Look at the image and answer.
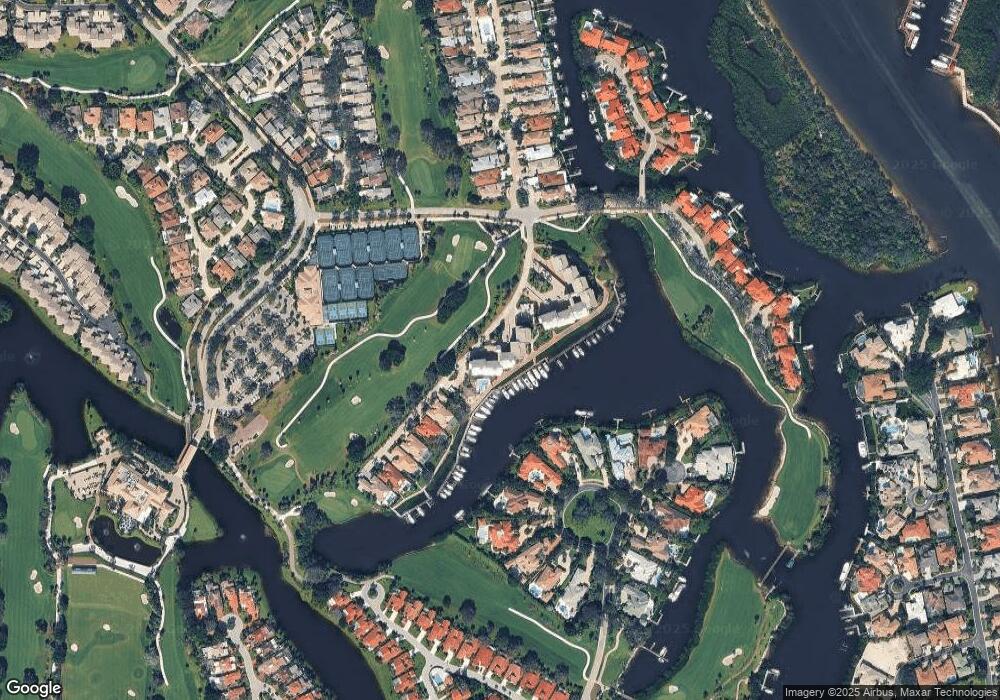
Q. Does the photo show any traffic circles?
Yes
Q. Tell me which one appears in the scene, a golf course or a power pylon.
golf course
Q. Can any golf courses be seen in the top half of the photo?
Yes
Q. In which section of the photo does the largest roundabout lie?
bottom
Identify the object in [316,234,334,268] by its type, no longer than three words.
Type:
tennis court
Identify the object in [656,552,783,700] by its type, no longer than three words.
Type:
golf course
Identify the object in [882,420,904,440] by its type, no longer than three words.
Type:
swimming pool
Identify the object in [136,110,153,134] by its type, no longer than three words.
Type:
house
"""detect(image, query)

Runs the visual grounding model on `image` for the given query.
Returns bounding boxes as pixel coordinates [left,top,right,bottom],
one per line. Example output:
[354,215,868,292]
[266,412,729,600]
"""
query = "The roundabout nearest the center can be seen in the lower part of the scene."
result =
[558,479,626,547]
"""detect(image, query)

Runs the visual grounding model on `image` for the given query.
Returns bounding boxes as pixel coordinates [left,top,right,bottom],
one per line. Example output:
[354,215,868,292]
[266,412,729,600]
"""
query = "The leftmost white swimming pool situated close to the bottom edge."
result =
[430,668,447,692]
